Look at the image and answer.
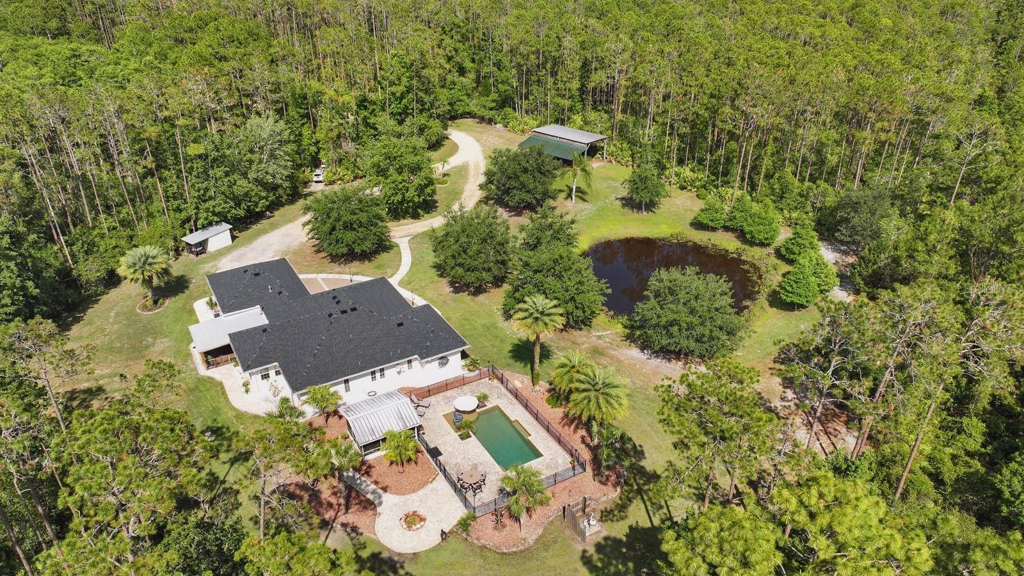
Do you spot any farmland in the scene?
No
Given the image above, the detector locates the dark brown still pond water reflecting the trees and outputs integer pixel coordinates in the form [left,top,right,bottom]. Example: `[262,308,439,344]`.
[577,237,767,331]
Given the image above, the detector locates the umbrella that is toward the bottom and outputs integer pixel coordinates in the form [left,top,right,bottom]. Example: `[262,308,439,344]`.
[454,395,479,414]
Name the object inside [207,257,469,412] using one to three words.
house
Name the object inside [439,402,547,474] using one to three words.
swimming pool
